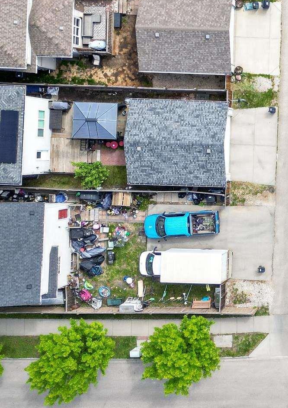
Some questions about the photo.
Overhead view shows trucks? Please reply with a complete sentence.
Yes, the image includes a truck.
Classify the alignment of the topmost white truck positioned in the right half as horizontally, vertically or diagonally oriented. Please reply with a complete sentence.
The topmost white truck positioned in the right half is laid out horizontally.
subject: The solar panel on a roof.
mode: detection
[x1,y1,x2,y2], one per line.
[0,110,18,163]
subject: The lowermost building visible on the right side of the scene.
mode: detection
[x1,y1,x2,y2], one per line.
[123,97,240,187]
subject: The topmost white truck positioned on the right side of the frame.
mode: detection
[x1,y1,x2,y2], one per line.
[140,246,235,284]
